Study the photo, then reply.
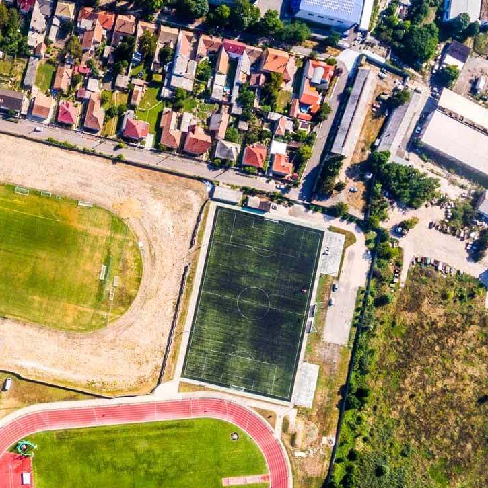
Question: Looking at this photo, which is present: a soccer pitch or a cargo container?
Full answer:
This aerial view contains a soccer pitch.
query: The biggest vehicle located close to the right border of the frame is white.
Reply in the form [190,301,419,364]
[472,76,485,93]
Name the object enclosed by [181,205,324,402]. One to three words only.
soccer field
